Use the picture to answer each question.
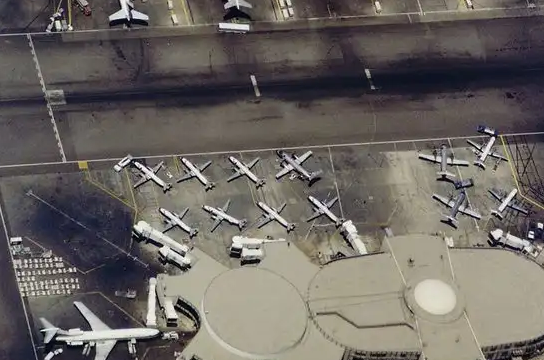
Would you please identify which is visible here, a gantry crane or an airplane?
airplane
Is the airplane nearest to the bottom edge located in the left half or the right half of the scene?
left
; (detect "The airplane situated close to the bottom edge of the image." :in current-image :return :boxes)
[42,301,161,360]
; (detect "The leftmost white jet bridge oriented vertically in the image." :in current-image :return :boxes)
[142,274,158,328]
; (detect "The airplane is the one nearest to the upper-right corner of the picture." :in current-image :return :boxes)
[467,137,508,166]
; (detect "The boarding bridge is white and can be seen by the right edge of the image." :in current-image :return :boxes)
[489,230,541,261]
